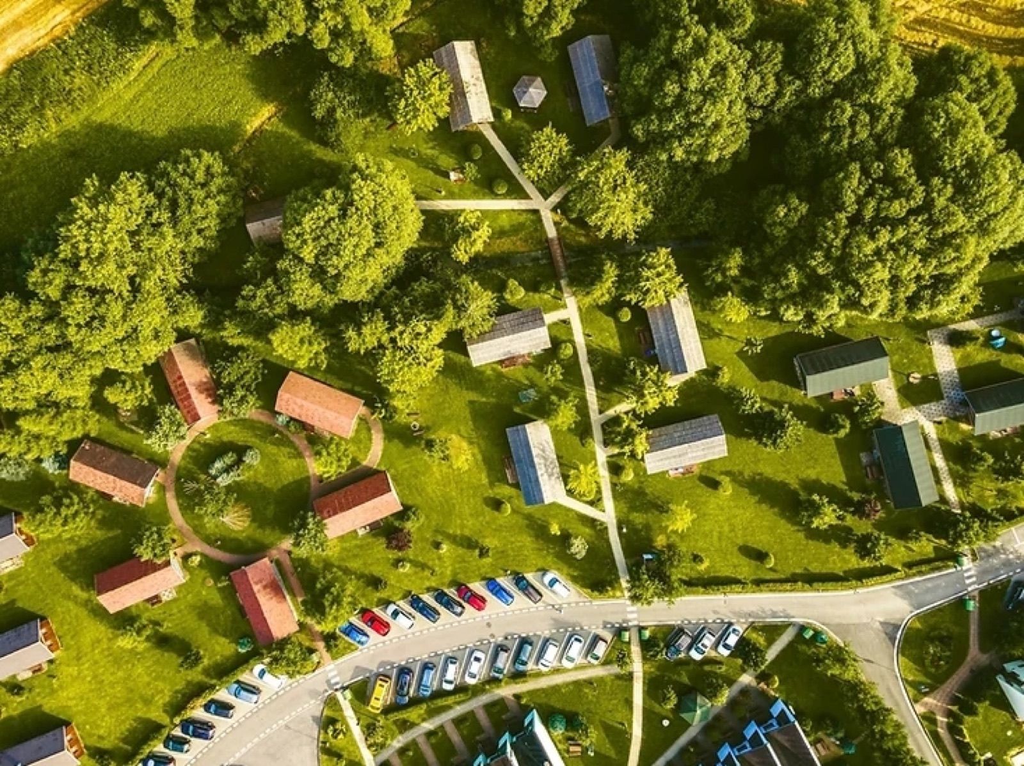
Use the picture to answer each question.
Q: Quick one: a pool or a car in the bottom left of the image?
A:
car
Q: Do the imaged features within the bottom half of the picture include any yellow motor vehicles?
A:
Yes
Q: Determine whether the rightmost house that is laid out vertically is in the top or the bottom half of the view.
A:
bottom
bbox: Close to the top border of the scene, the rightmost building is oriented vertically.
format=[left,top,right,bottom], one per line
[567,34,630,129]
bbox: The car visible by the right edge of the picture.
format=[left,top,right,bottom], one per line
[999,576,1024,615]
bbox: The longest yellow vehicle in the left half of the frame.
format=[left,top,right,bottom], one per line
[366,672,392,715]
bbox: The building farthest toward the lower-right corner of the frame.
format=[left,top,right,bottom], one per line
[996,662,1024,725]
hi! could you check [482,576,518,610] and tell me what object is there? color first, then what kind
blue car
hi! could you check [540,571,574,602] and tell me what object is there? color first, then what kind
white car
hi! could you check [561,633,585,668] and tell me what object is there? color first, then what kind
white car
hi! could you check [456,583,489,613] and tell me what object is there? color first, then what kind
red car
